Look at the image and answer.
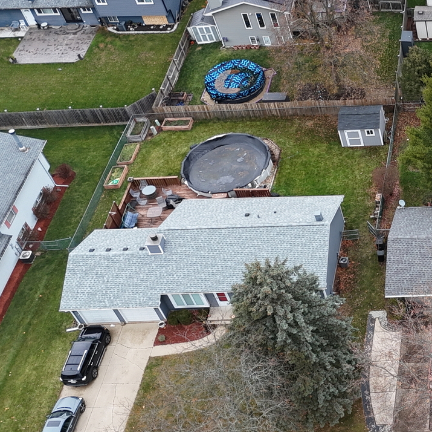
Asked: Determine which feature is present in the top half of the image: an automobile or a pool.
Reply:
pool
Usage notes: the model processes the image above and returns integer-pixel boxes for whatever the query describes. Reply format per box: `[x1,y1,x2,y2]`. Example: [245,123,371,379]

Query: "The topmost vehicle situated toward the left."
[53,322,109,390]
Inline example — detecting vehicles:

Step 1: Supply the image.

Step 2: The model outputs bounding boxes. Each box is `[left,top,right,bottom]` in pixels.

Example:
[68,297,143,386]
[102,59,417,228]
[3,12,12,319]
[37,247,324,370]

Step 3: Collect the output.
[39,395,86,432]
[53,322,109,390]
